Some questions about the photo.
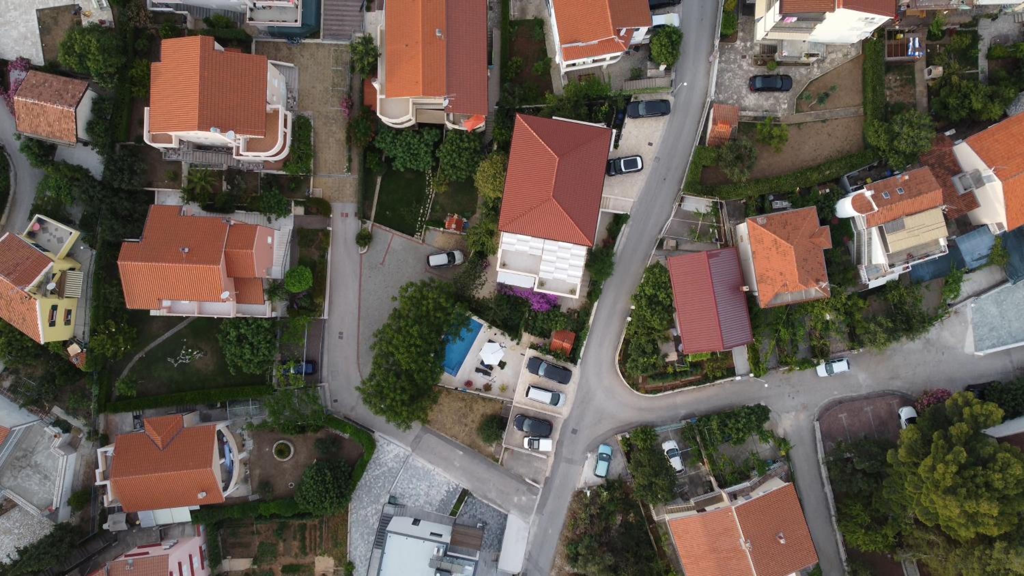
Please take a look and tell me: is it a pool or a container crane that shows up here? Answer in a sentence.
There is a pool in the scene.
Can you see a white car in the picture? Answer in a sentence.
Yes, this view includes a white car.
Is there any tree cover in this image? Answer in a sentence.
Yes, there's tree cover in this view.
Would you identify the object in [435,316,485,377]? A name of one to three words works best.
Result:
swimming pool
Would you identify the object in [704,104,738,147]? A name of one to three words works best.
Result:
shed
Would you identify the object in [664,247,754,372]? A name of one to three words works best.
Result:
house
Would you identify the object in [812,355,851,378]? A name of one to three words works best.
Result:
car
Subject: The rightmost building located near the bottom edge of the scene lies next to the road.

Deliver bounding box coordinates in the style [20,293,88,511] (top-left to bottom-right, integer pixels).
[649,454,818,576]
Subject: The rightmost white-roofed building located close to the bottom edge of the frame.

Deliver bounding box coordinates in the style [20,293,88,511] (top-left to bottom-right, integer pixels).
[498,509,529,575]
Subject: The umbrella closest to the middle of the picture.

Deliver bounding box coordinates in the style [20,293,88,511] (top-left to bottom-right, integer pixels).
[478,340,512,365]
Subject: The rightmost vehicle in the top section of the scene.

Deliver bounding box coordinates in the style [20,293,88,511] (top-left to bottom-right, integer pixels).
[746,71,793,94]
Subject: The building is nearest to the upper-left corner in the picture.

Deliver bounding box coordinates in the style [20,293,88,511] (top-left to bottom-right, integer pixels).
[13,70,107,148]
